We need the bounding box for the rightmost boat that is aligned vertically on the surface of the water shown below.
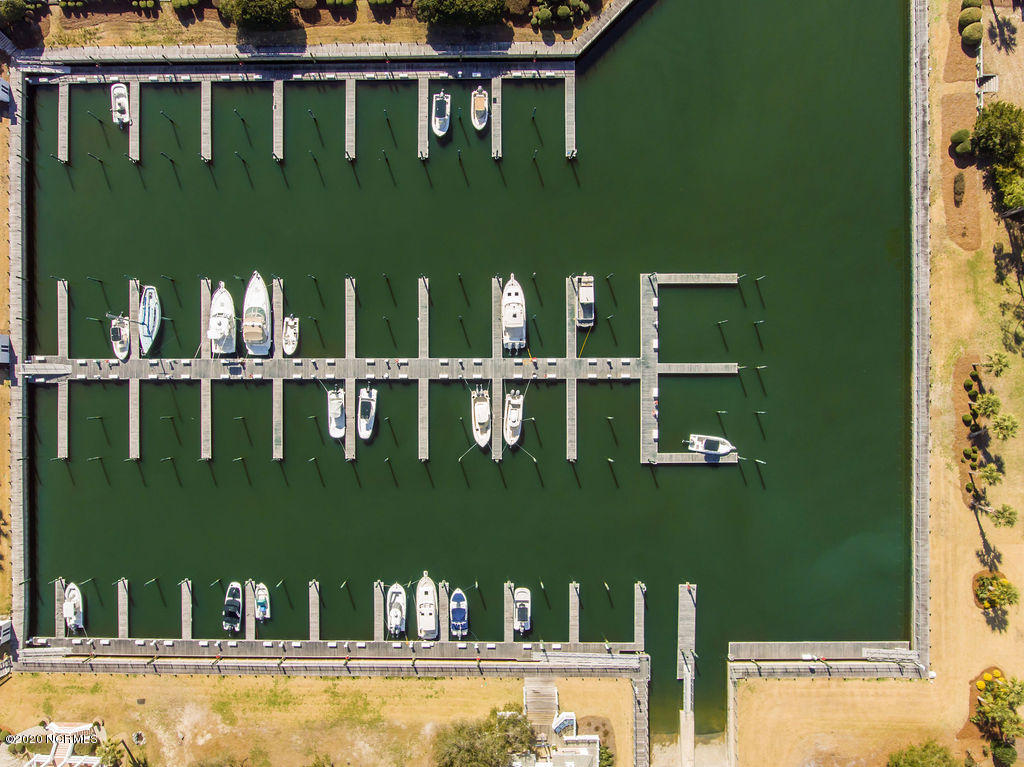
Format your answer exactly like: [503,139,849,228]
[577,273,594,325]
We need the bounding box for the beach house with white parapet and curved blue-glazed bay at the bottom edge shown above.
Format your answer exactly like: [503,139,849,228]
[552,708,601,767]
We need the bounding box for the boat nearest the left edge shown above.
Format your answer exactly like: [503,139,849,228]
[62,583,85,637]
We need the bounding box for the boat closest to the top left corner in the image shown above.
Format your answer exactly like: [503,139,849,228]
[111,83,130,129]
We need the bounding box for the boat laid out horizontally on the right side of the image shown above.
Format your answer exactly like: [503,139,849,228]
[682,434,737,454]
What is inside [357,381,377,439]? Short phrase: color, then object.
white boat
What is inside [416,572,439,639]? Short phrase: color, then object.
white boat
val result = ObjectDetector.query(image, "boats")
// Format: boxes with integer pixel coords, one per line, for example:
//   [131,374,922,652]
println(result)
[471,88,488,130]
[104,286,160,354]
[62,583,85,637]
[357,381,377,439]
[327,382,346,438]
[110,310,133,360]
[450,588,468,644]
[514,588,531,634]
[282,314,299,355]
[111,83,130,129]
[432,86,450,137]
[223,582,243,640]
[471,383,491,447]
[504,391,523,446]
[682,434,737,454]
[416,572,439,639]
[194,281,238,354]
[577,273,594,325]
[501,272,525,351]
[387,583,406,635]
[255,583,270,622]
[242,270,273,354]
